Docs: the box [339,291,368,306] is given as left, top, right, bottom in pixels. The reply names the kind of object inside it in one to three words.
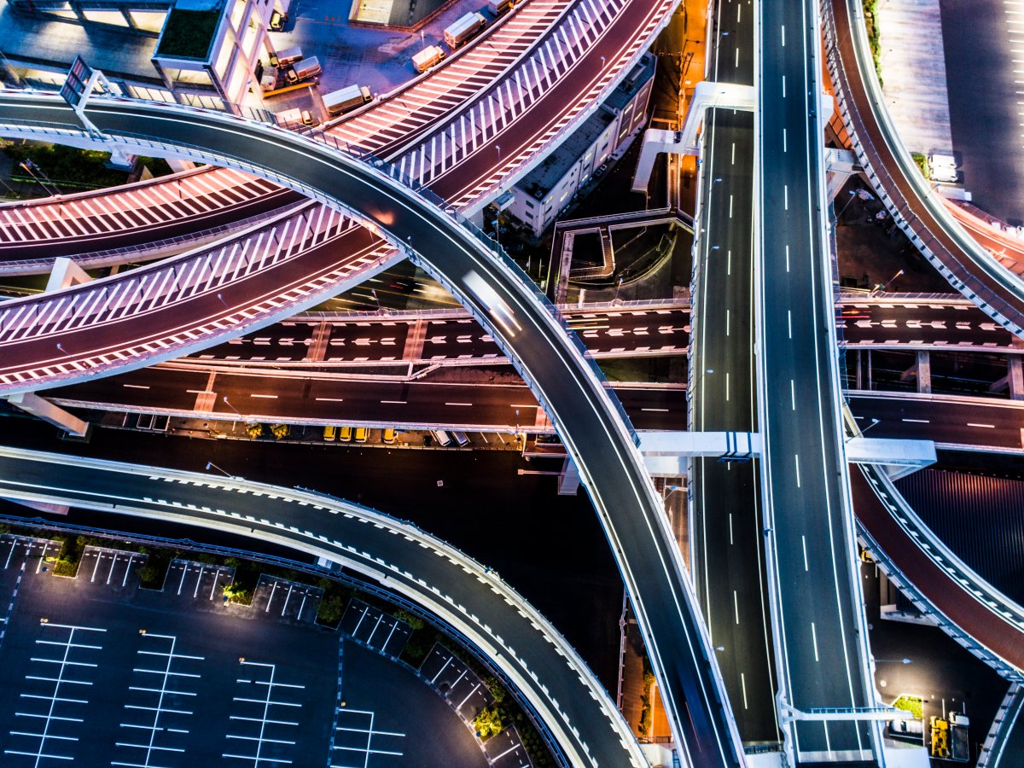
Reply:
car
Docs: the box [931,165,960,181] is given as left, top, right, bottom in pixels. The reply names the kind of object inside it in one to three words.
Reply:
vehicle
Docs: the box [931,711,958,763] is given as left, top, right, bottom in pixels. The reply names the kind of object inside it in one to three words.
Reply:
truck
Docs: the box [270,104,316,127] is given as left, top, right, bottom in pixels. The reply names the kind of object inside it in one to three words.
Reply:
truck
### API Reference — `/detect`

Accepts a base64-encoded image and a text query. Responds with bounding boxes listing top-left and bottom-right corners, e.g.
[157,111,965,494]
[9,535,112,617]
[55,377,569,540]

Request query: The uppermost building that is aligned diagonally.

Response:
[491,54,658,233]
